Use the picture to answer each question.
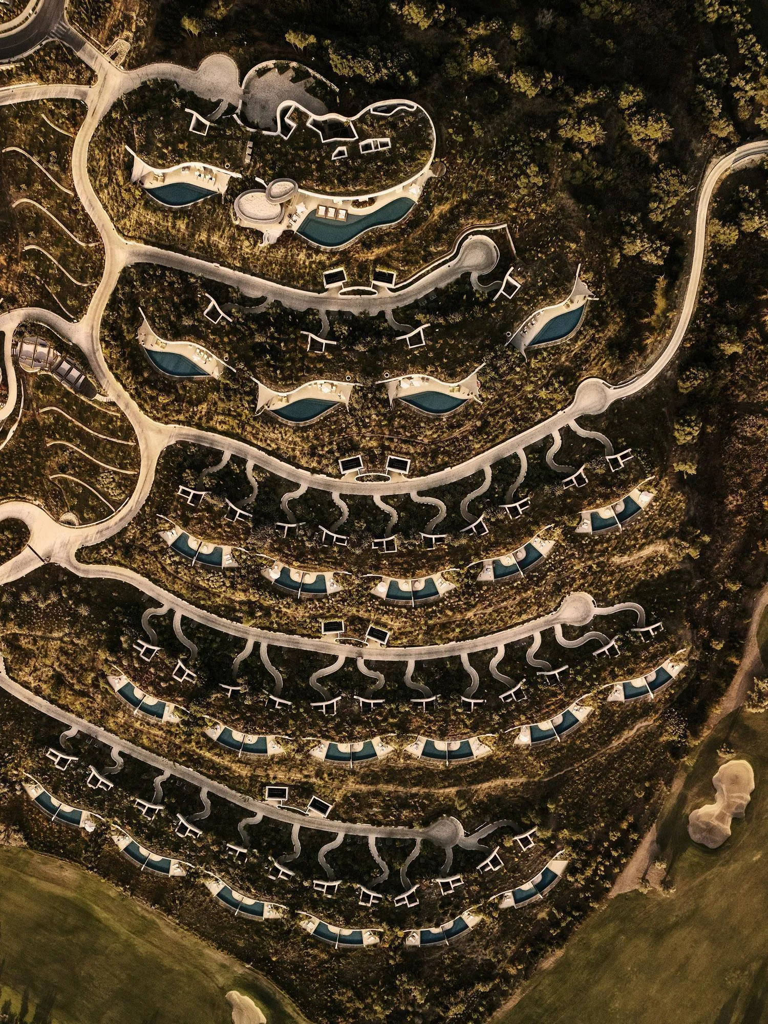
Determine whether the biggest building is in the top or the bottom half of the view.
top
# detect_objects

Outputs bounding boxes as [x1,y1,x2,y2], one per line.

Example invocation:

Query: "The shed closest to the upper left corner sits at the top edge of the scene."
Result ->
[105,38,133,69]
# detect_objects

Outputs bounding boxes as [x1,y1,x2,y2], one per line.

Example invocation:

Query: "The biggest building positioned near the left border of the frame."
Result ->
[18,335,112,404]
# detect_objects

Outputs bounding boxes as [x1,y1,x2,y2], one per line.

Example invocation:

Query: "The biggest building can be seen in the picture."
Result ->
[232,98,438,253]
